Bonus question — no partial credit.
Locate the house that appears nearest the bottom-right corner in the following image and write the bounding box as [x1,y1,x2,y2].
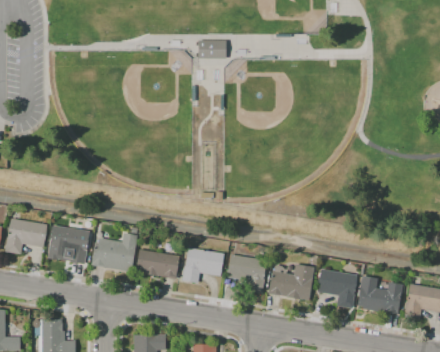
[406,284,440,316]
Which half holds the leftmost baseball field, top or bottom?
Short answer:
top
